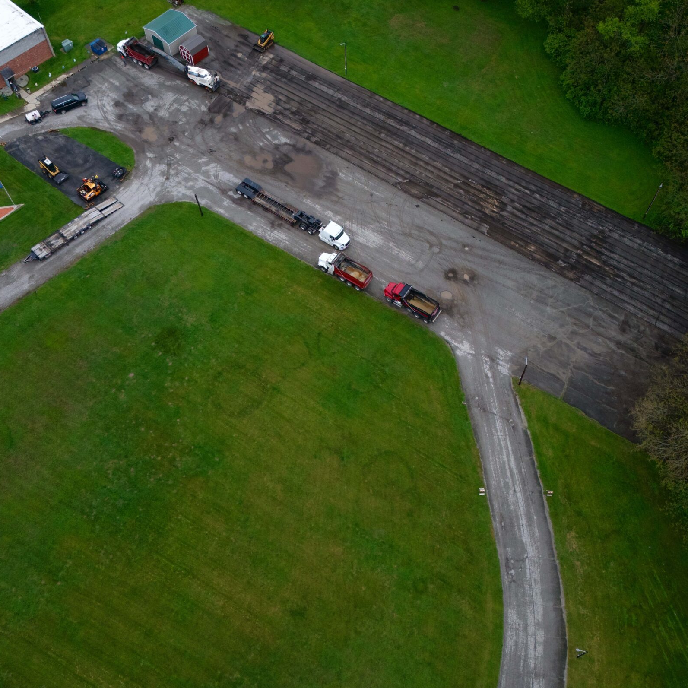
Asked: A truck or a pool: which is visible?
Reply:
truck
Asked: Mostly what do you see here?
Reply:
grass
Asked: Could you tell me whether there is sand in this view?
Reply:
No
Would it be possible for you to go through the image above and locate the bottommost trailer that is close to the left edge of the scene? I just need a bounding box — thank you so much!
[26,193,122,264]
